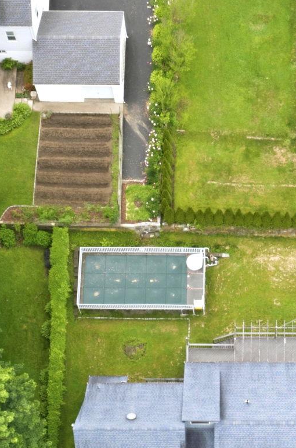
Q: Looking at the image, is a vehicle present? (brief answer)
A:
No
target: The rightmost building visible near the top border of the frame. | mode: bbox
[29,10,127,106]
